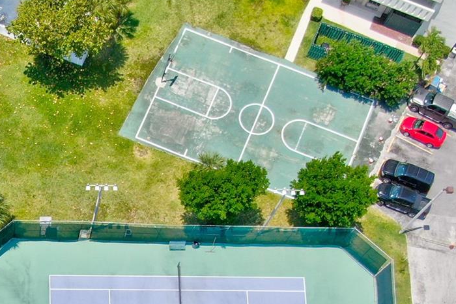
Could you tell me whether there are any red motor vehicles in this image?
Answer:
Yes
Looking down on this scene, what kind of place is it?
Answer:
sports ground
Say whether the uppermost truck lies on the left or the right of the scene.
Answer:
right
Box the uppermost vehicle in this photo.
[406,89,456,132]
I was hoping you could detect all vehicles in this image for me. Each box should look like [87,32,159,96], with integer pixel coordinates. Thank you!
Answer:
[380,162,438,201]
[406,89,456,132]
[401,118,449,151]
[376,186,437,224]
